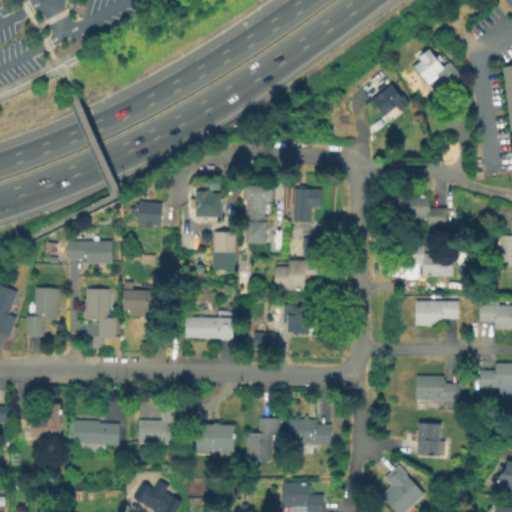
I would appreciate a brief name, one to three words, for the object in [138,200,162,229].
house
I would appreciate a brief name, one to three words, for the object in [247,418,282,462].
house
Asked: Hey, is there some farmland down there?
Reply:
No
